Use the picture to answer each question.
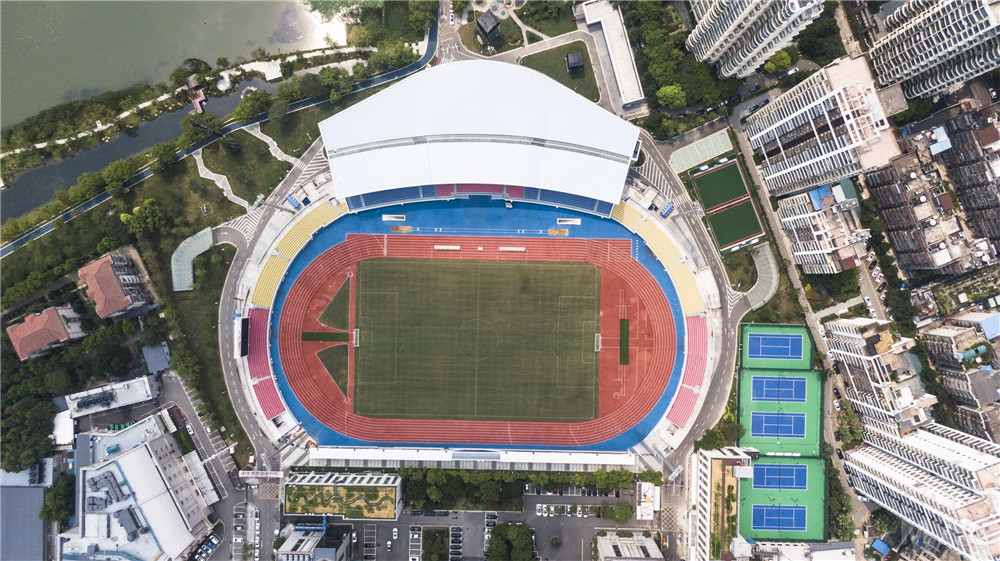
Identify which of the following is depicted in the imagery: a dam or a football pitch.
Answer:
football pitch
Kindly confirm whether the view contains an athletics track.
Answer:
Yes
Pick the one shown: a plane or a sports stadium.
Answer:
sports stadium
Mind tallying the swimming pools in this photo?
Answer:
zero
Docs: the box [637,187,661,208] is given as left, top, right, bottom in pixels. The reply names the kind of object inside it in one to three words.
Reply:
building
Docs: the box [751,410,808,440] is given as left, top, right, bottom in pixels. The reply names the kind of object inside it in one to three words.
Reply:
tennis court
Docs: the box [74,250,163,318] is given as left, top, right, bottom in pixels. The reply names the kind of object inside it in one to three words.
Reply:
house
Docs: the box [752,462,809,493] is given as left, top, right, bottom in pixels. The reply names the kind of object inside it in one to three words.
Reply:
tennis court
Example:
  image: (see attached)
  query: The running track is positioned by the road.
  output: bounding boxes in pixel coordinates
[271,199,687,451]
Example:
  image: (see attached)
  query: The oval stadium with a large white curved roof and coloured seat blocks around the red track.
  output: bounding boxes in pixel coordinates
[239,59,715,449]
